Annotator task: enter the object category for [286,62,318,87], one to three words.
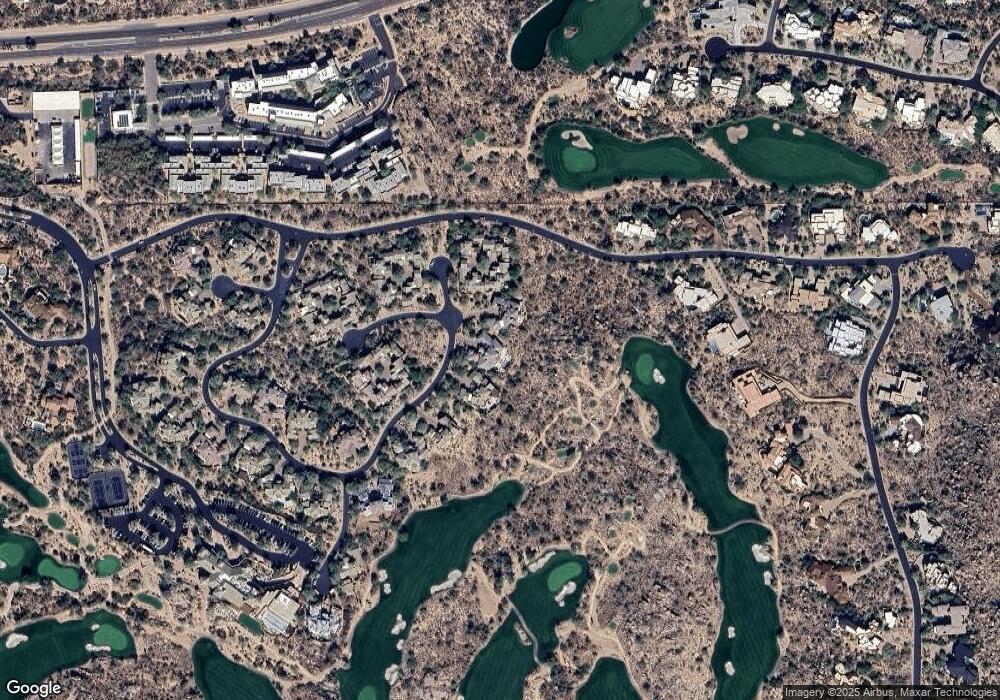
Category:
building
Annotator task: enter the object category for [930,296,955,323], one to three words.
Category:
house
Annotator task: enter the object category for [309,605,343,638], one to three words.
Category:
building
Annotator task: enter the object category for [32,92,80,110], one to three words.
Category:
shed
